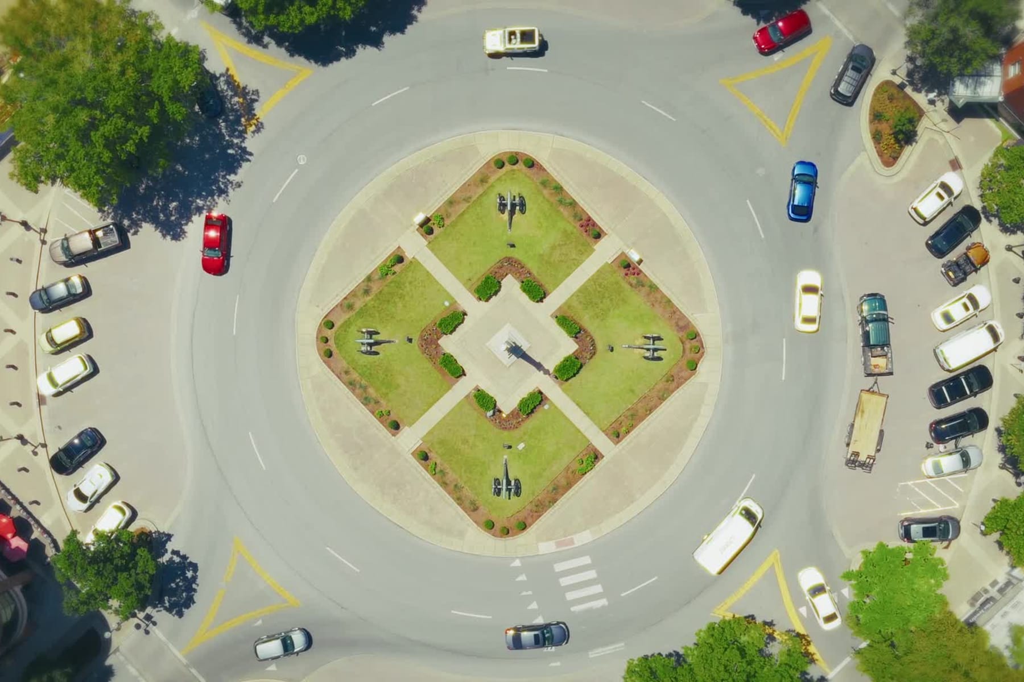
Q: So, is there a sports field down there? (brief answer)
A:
No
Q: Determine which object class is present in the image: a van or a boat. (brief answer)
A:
van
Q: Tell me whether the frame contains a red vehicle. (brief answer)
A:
Yes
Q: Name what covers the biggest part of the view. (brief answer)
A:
paved ground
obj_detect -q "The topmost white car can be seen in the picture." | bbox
[484,25,545,58]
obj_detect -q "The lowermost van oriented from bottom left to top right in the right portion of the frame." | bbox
[692,492,768,585]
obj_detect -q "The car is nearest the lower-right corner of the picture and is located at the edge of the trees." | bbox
[897,515,959,545]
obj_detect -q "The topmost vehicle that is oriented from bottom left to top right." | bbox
[752,6,815,57]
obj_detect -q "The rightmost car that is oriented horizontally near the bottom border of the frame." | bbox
[506,620,569,651]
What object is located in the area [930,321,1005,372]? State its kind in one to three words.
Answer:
van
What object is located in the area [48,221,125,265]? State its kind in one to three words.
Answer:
truck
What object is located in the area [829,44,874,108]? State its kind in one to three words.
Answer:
car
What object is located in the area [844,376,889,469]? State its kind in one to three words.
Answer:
trailer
